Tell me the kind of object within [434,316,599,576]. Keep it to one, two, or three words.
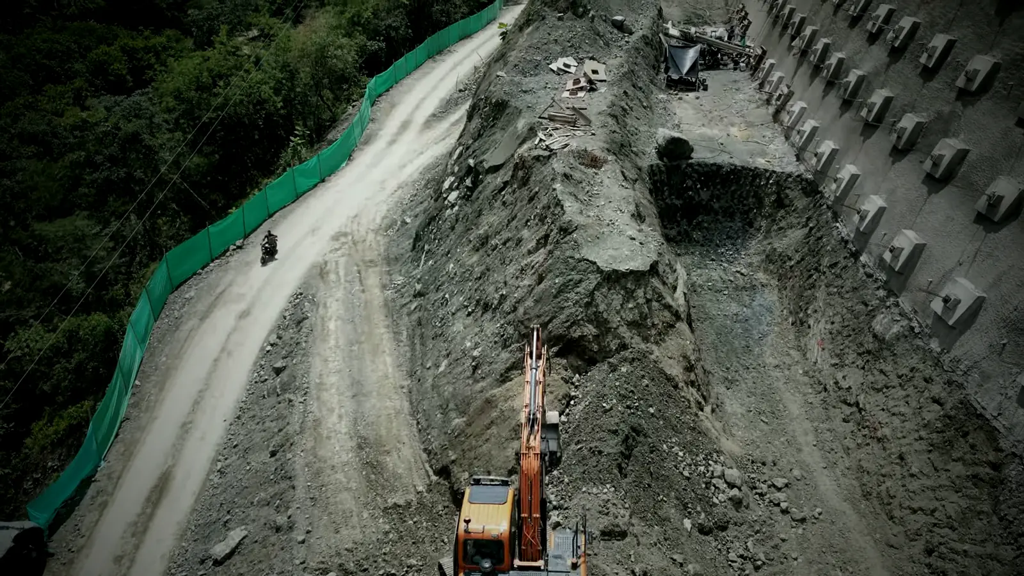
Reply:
work vehicle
